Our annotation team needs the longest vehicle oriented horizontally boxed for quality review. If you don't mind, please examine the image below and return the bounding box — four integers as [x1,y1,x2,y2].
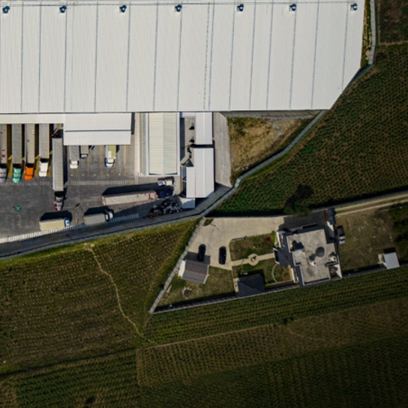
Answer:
[101,186,169,205]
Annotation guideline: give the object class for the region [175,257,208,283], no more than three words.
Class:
shed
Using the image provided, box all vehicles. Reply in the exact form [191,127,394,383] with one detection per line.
[107,145,116,167]
[24,124,34,179]
[337,226,345,245]
[50,138,61,205]
[101,186,169,205]
[0,125,7,179]
[83,213,111,225]
[156,179,174,186]
[11,124,22,179]
[42,219,69,229]
[197,246,205,261]
[69,145,79,168]
[218,247,226,262]
[38,124,48,173]
[80,145,89,161]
